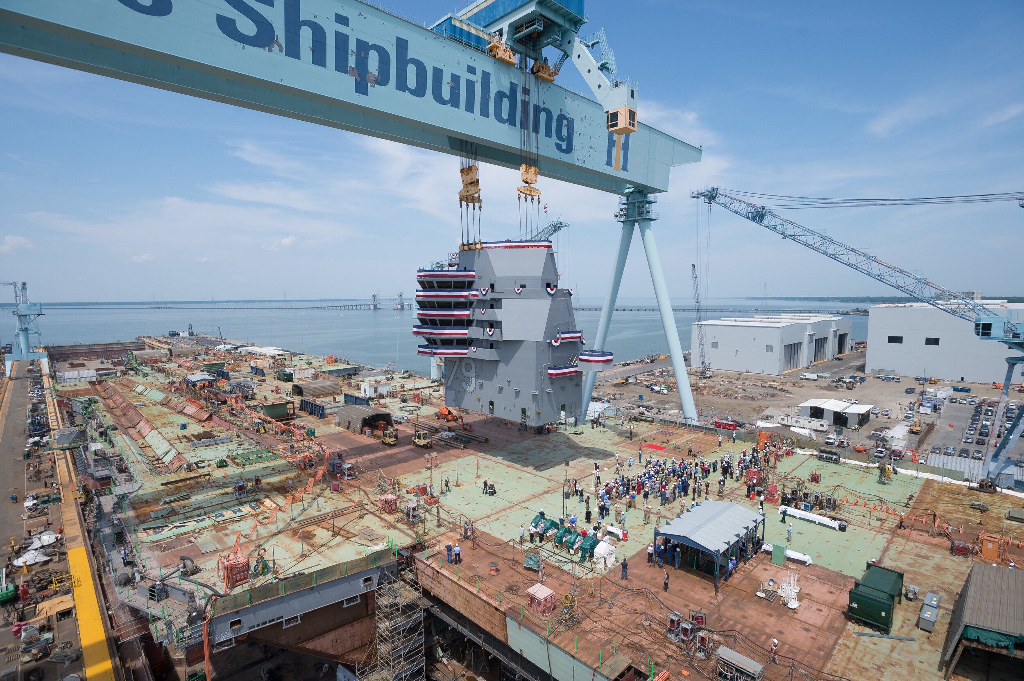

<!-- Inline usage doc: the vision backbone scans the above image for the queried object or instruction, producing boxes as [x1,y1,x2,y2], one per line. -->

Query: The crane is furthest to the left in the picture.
[0,281,53,362]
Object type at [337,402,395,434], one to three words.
shed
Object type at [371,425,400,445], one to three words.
work vehicle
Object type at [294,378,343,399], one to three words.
shed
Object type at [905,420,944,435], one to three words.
work vehicle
